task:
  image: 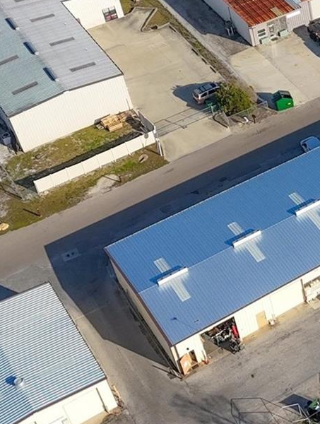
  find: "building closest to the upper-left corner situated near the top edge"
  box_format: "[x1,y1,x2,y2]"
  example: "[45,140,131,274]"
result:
[0,0,130,148]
